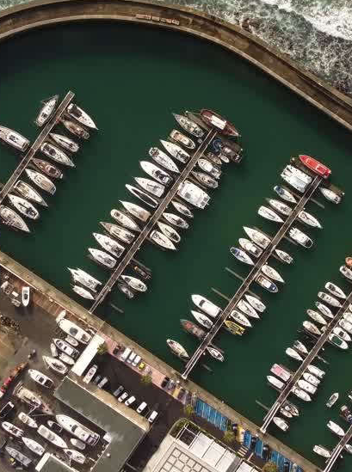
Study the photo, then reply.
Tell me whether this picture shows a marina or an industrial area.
marina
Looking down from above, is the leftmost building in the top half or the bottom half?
bottom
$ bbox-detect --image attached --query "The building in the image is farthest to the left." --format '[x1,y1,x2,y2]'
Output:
[37,374,150,472]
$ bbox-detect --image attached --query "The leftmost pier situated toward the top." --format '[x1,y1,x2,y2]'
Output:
[0,90,75,205]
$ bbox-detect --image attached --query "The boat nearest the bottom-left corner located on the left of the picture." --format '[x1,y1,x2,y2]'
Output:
[6,448,33,468]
